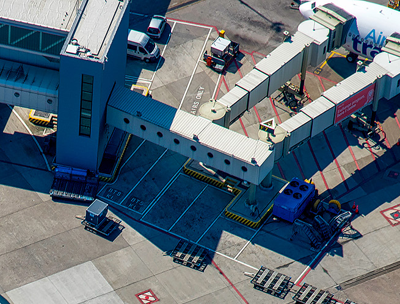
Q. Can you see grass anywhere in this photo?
No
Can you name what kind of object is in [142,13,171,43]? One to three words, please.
car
